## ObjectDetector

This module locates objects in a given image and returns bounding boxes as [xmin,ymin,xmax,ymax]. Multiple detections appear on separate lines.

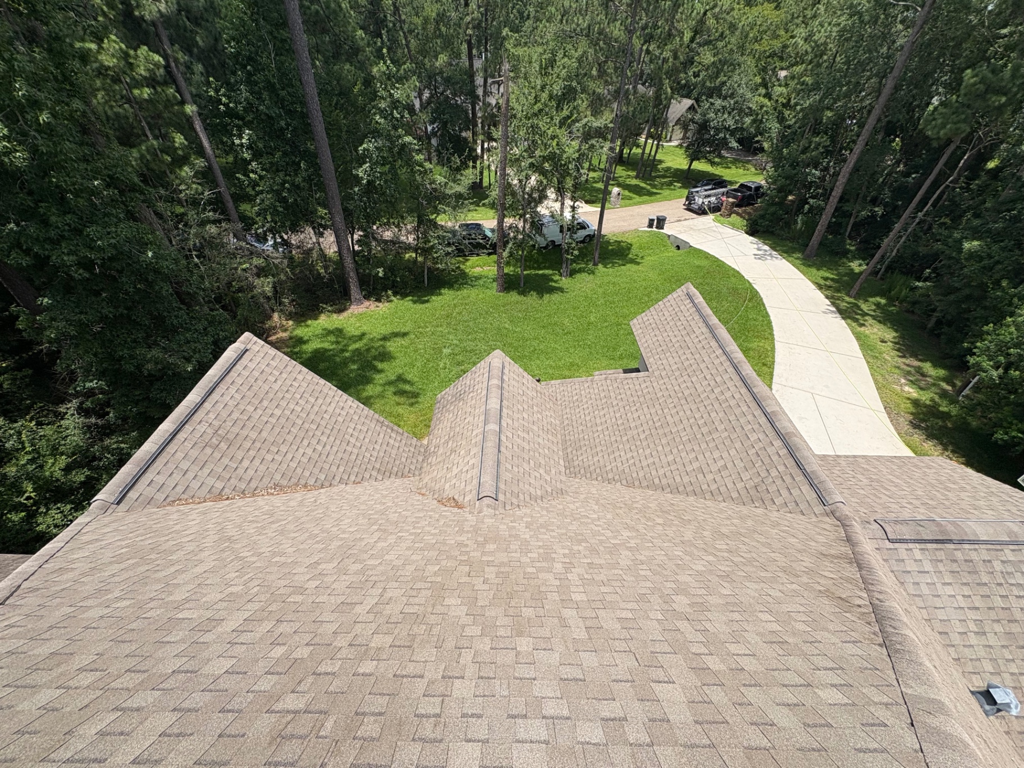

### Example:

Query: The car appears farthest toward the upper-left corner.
[445,216,498,251]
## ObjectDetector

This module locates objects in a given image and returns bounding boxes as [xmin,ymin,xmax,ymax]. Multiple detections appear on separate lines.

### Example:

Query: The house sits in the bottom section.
[0,282,1024,768]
